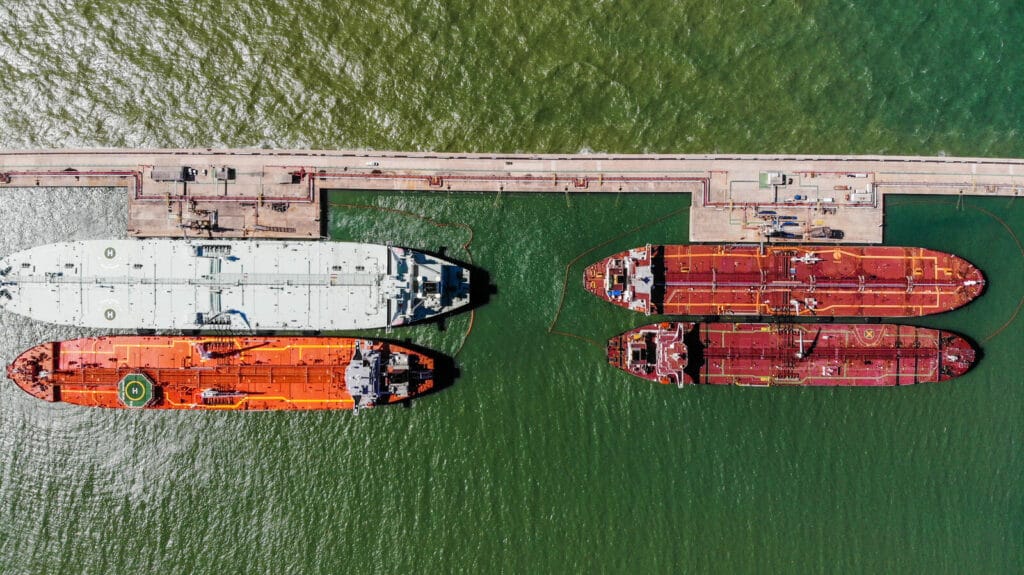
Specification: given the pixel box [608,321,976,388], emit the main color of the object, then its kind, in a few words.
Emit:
red ship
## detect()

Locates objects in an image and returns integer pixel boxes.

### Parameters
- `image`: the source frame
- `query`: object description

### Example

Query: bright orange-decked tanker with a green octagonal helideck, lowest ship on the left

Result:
[6,335,435,415]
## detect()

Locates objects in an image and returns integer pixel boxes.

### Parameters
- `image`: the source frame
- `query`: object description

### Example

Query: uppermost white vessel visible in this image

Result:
[0,239,469,332]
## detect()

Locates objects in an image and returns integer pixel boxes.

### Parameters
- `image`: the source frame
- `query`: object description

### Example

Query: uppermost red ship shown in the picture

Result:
[584,244,986,317]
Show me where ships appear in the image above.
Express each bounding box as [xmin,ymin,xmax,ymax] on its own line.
[584,244,986,317]
[6,335,435,415]
[0,239,469,332]
[608,321,976,388]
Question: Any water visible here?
Yes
